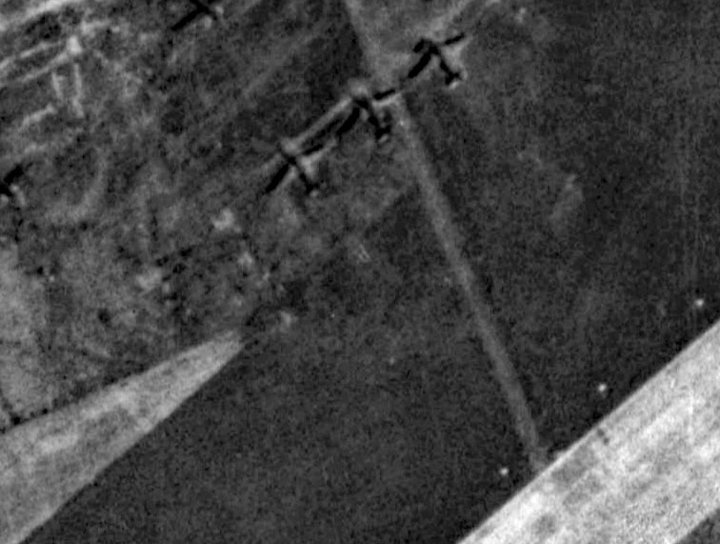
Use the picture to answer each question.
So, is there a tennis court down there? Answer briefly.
No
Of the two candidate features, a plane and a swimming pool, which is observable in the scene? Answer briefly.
plane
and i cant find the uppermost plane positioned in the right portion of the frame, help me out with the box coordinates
[415,36,475,86]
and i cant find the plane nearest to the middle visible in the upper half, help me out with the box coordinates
[274,146,334,198]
